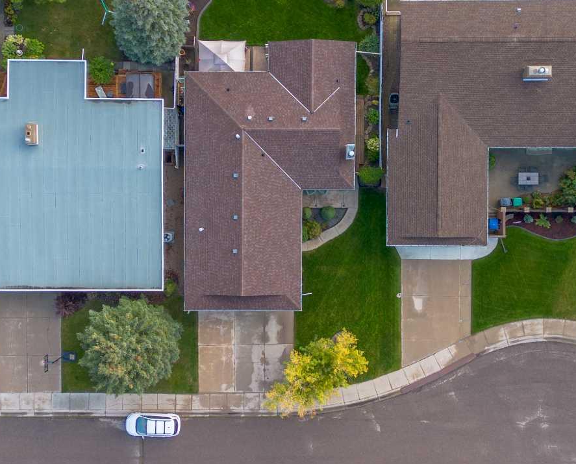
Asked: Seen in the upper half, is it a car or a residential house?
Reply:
residential house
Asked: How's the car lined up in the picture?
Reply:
from side to side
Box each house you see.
[0,48,164,292]
[386,0,576,247]
[184,39,357,313]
